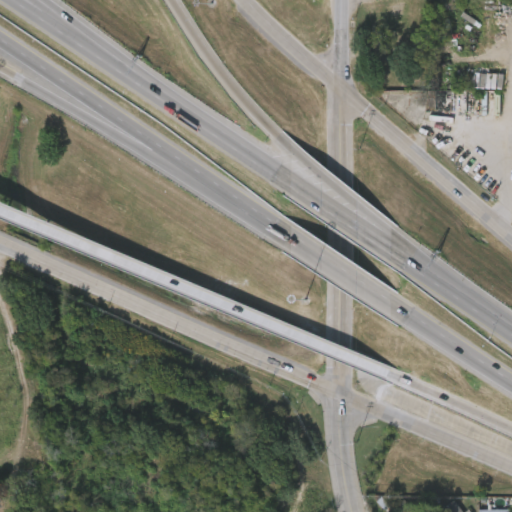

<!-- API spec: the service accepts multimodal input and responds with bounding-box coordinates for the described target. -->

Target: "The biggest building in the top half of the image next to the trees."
[476,74,506,90]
